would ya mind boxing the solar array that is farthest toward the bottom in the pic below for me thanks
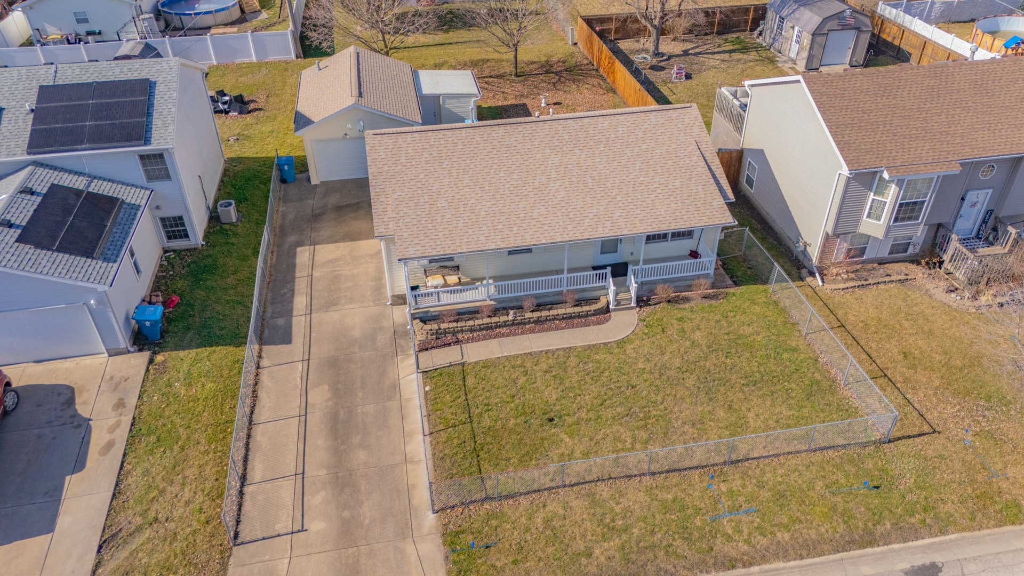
[14,181,124,259]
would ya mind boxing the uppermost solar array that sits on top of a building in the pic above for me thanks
[27,78,152,157]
